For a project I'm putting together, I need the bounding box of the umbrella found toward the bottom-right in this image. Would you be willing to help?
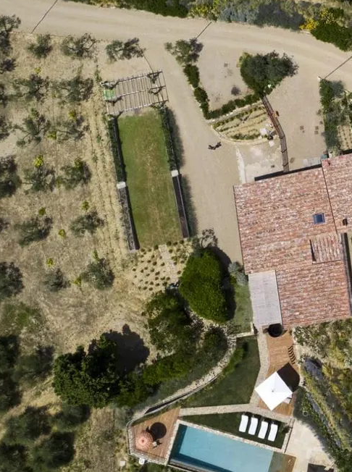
[255,371,292,410]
